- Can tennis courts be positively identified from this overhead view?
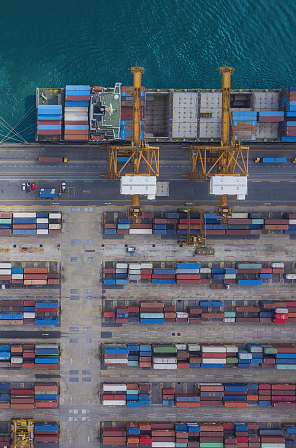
No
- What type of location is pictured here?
port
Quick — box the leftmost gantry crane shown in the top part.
[99,67,163,223]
